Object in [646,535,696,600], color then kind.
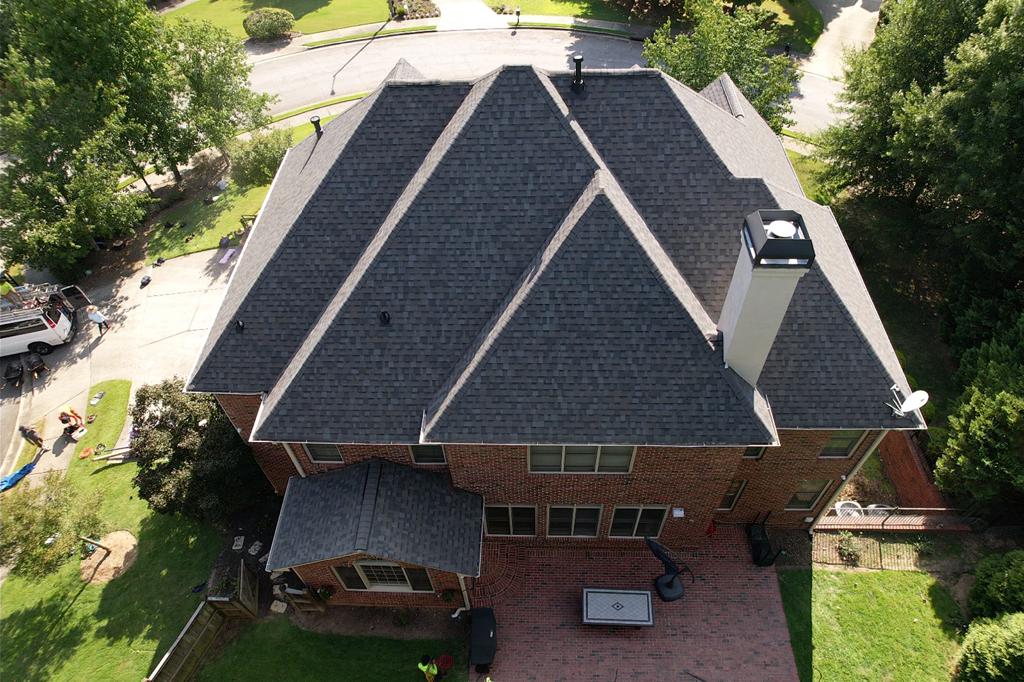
black umbrella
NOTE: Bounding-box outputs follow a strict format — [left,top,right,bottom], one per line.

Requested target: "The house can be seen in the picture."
[185,56,930,621]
